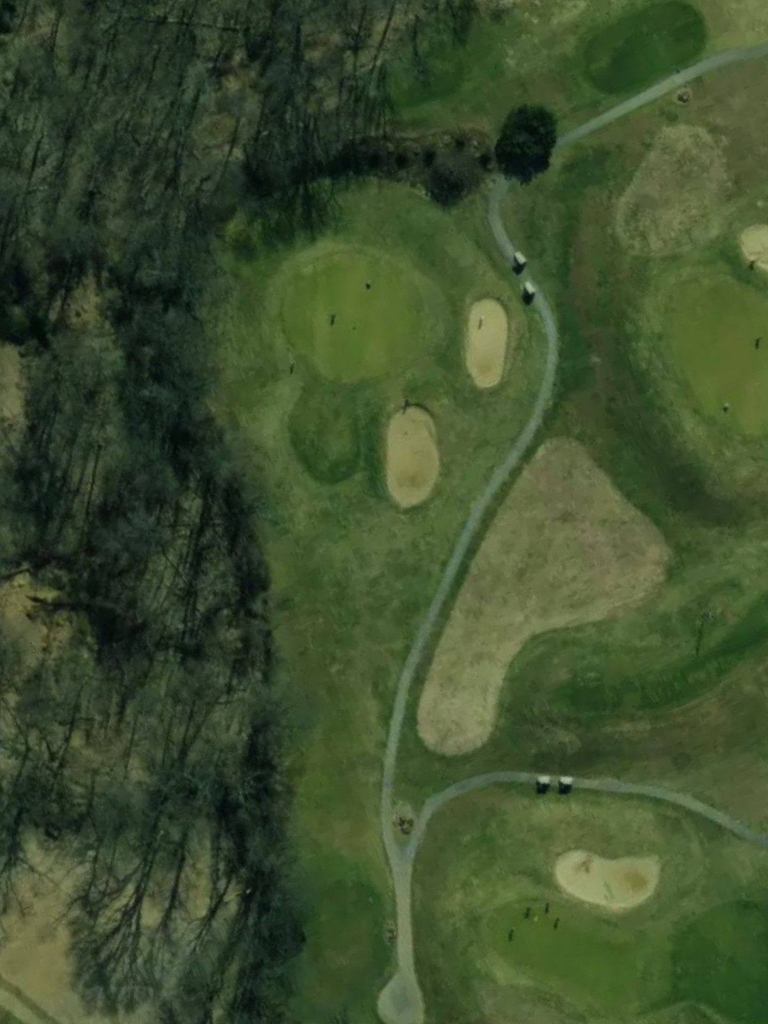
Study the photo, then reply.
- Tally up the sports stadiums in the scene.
0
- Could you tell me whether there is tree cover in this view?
Yes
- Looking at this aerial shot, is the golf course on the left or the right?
right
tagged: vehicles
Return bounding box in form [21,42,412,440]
[559,778,575,786]
[522,282,536,299]
[512,249,526,265]
[537,777,552,785]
